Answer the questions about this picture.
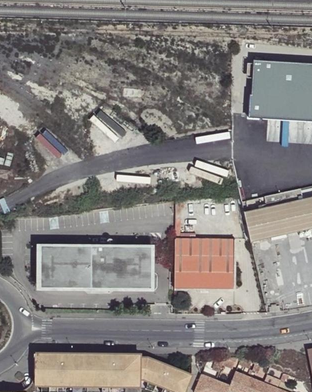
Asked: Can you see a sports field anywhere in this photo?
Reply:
No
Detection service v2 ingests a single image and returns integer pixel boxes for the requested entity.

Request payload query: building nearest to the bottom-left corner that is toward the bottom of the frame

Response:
[35,352,142,388]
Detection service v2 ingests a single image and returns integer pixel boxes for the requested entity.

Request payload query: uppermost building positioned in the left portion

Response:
[36,244,155,290]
